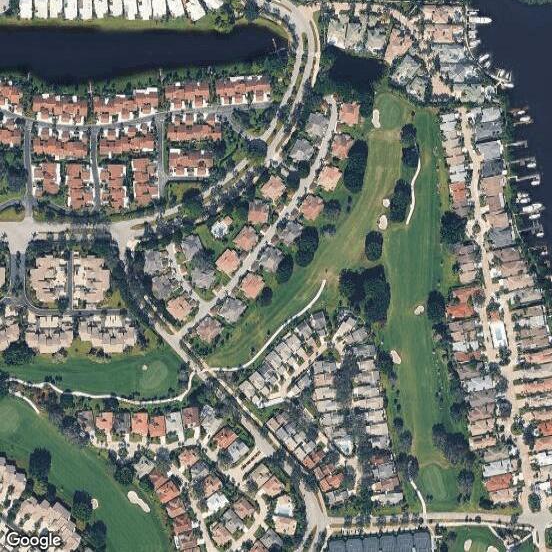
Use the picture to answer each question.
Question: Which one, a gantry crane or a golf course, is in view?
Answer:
golf course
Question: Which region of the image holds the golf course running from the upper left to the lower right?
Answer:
bottom left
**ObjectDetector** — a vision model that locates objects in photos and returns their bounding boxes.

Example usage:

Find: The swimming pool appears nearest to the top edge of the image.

[211,224,228,236]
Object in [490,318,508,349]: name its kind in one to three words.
swimming pool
